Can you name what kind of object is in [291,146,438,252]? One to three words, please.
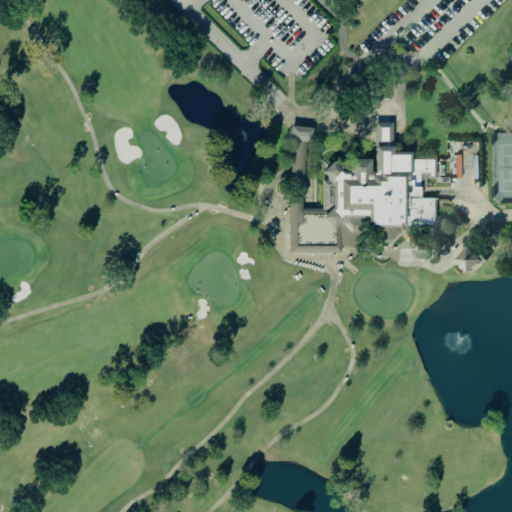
building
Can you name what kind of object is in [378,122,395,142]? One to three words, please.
building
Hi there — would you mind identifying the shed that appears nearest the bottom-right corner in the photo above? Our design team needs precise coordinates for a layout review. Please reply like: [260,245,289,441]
[456,248,484,272]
